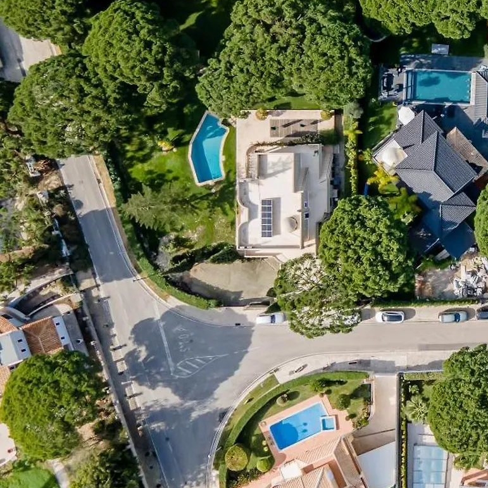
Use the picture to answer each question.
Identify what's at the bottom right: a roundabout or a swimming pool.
swimming pool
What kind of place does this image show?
residential area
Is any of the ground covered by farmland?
No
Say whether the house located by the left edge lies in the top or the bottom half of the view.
bottom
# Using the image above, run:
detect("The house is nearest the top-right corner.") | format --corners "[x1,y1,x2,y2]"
[374,56,488,259]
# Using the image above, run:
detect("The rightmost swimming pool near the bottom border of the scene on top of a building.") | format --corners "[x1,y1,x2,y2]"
[413,445,448,488]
